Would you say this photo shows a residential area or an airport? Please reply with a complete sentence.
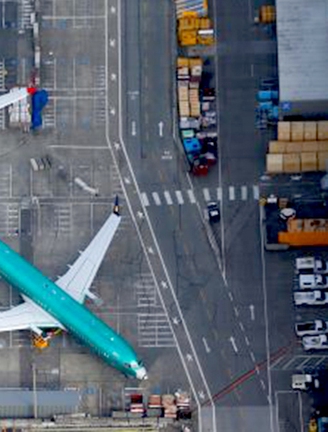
It's an airport.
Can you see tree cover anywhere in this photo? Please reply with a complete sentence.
No, the picture contains no tree cover.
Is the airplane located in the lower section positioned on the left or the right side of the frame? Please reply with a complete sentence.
The airplane located in the lower section appears in the left half of the scene.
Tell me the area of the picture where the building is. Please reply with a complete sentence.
You can find the building in the top right area of the picture.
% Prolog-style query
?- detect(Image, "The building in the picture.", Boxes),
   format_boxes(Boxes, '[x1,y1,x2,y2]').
[278,0,328,123]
